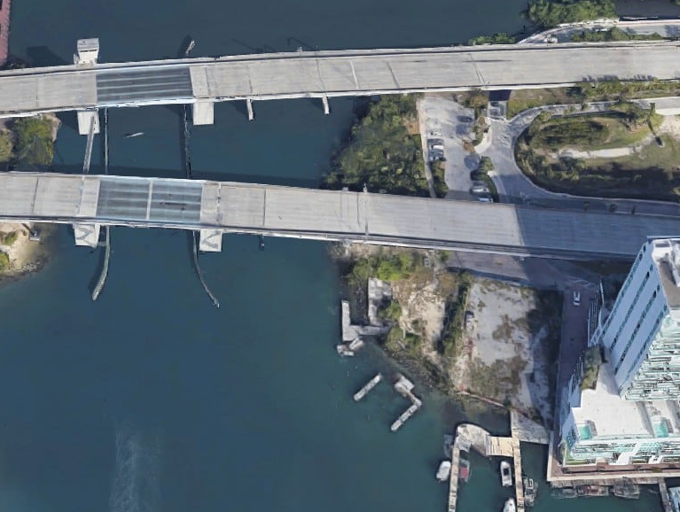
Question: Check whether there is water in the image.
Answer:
Yes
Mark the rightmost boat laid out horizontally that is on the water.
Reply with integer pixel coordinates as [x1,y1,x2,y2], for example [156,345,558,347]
[612,485,643,499]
